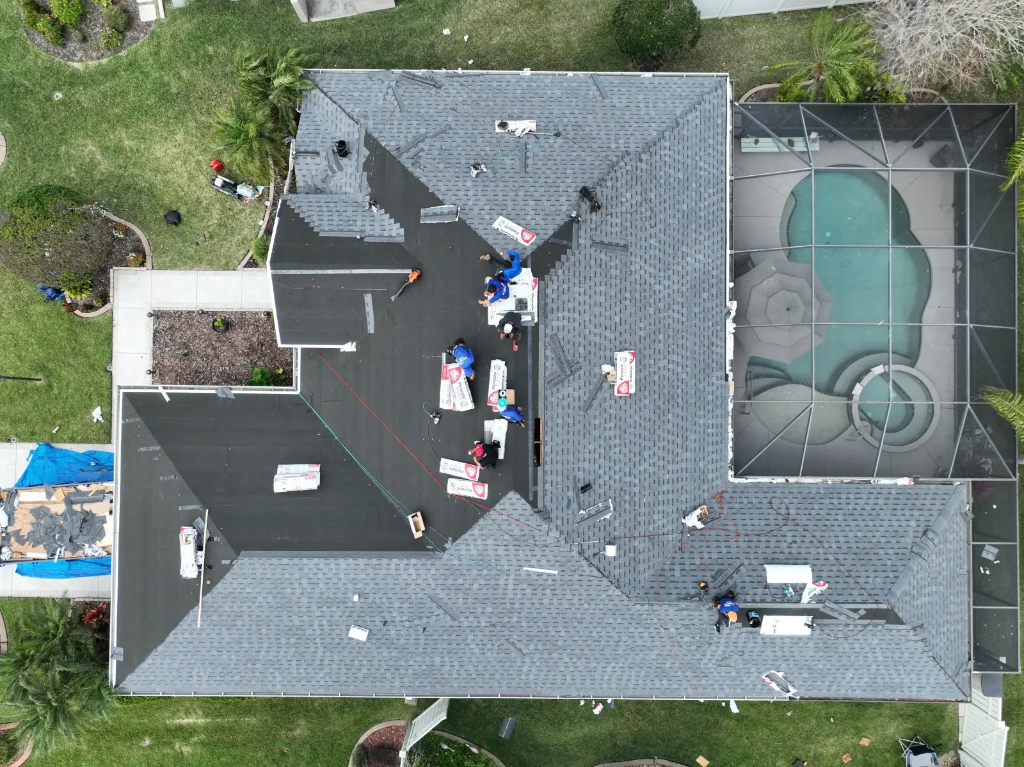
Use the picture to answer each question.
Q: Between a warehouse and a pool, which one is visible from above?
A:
pool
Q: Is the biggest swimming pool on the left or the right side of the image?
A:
right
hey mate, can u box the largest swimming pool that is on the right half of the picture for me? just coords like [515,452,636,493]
[747,164,933,445]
